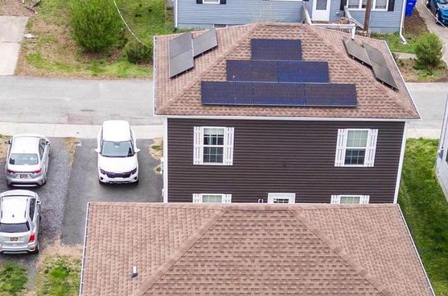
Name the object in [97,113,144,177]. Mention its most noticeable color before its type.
white car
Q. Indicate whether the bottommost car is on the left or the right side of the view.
left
